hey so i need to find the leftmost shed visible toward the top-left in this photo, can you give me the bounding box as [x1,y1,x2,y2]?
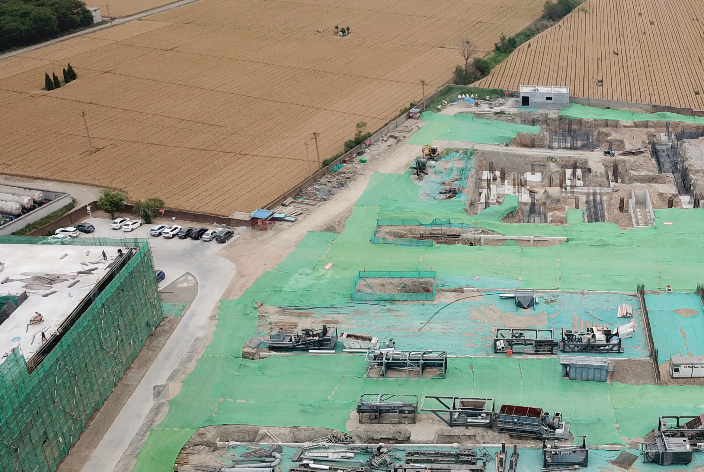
[83,5,104,26]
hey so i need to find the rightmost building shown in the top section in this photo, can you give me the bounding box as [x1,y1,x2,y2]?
[519,85,570,110]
